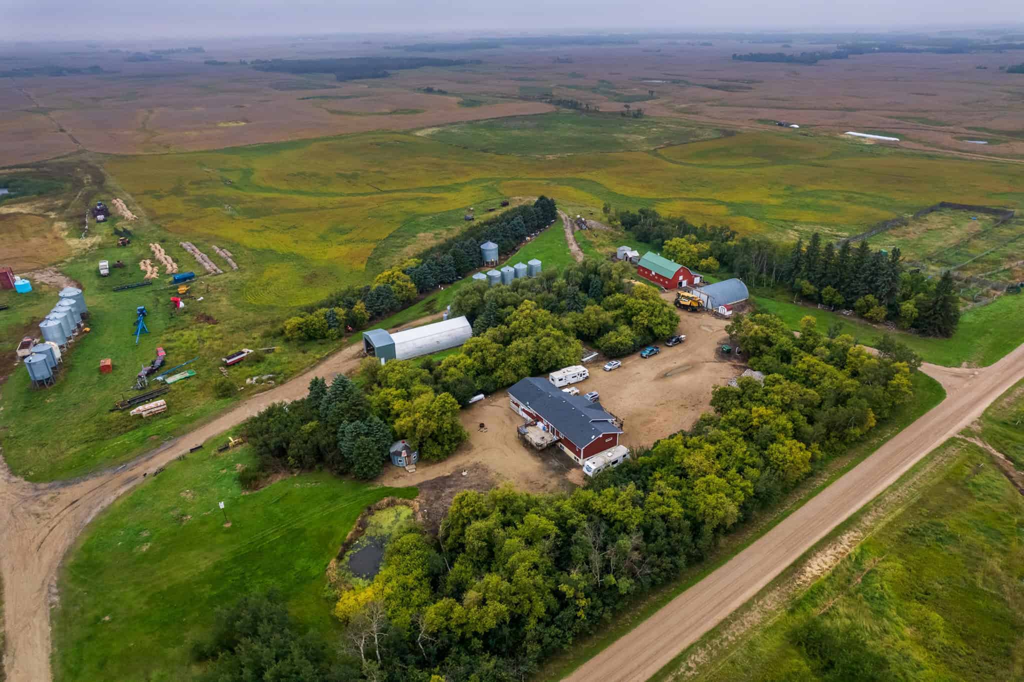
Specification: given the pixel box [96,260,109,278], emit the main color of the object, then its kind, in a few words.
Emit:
white vehicle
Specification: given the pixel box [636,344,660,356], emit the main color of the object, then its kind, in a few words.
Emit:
blue vehicle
